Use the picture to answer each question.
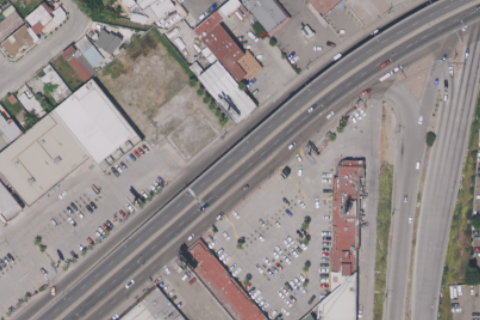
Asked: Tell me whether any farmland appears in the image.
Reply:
No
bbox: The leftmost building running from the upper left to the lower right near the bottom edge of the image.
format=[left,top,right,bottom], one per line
[186,238,268,320]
